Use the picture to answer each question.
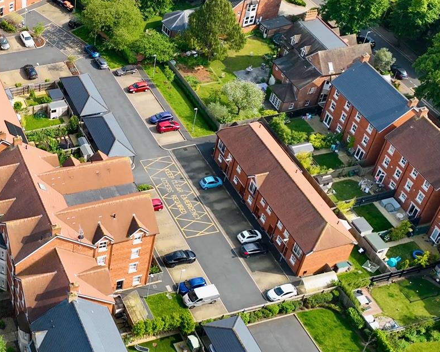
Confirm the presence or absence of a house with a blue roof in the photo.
Yes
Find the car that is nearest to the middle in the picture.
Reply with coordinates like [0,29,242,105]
[199,176,223,190]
